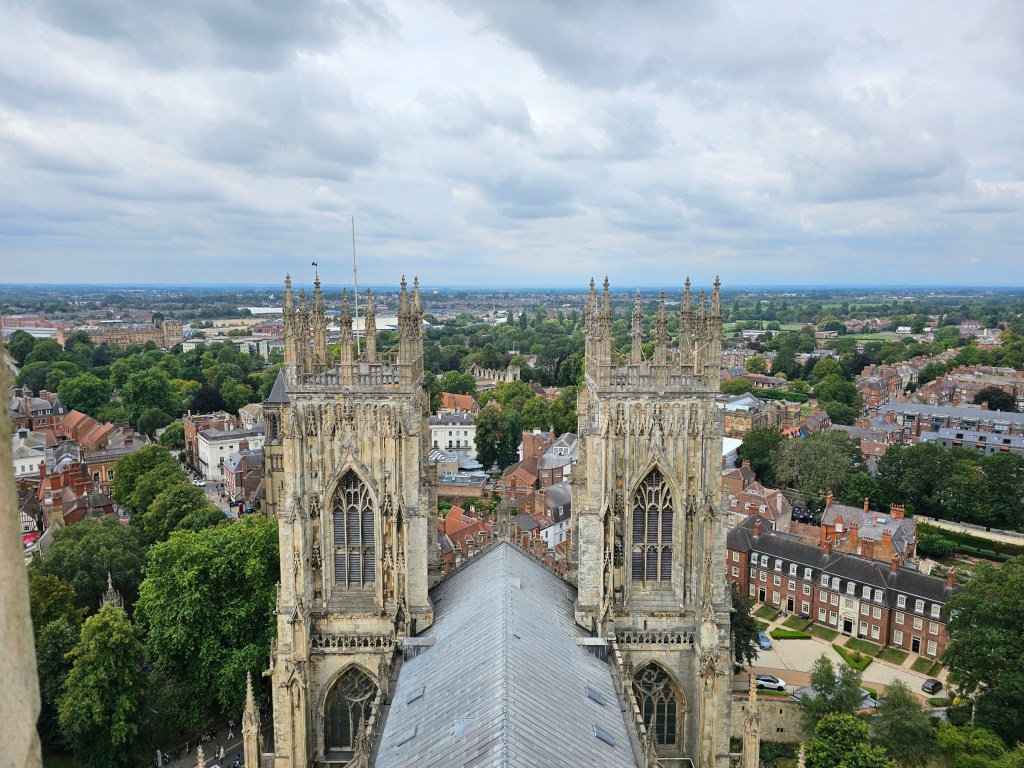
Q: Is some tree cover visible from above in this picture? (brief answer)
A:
Yes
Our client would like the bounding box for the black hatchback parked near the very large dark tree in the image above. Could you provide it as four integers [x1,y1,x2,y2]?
[921,677,944,693]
